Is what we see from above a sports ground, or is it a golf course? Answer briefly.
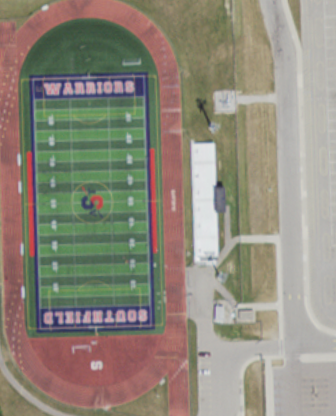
sports ground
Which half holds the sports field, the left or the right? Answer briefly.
left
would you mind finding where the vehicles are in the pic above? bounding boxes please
[198,370,210,375]
[198,352,210,356]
